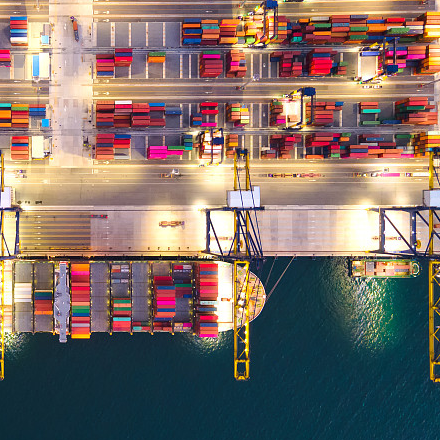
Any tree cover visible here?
No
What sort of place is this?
port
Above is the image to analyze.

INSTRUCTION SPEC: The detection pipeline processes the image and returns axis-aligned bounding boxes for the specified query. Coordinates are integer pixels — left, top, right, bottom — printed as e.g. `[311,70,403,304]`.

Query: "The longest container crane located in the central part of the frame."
[196,148,267,382]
